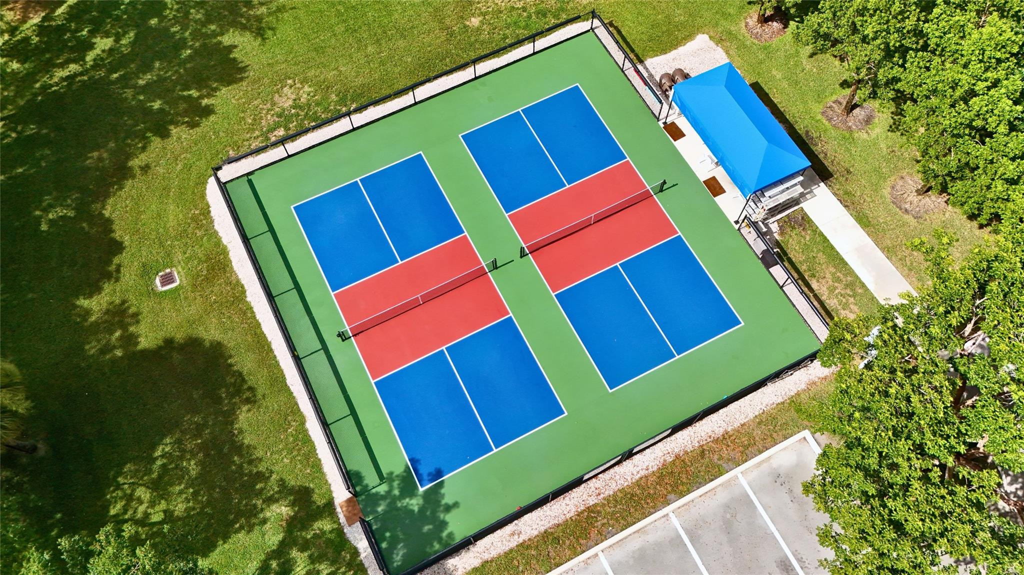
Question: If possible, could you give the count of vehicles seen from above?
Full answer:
I count no vehicles.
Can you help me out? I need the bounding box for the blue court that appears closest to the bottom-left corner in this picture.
[292,150,567,490]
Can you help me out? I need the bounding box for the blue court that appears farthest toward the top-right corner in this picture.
[459,84,742,392]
